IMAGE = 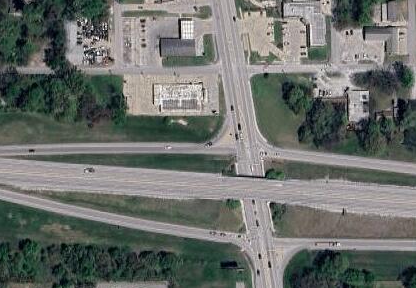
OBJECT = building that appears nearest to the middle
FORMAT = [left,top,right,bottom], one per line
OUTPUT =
[154,84,203,105]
